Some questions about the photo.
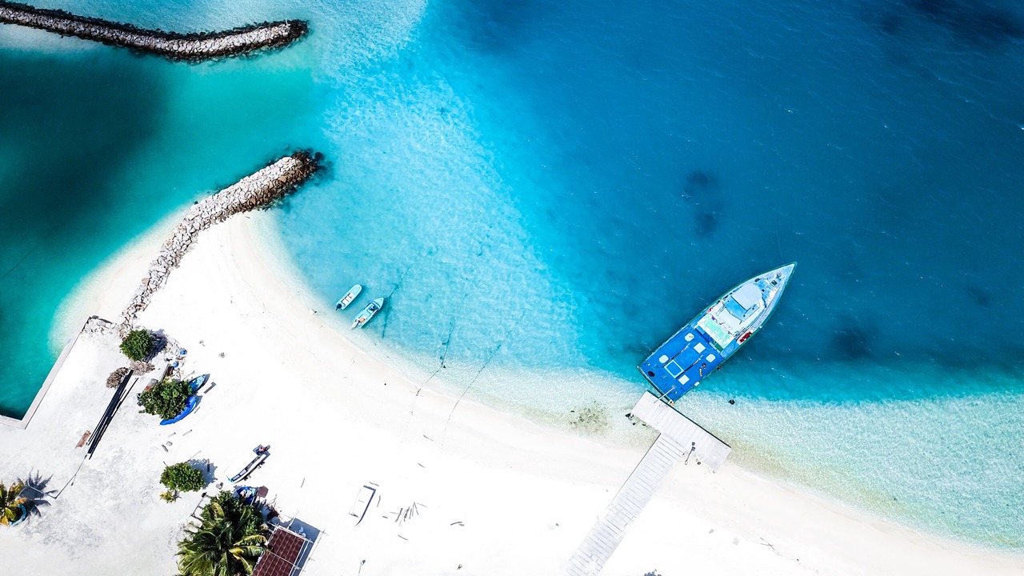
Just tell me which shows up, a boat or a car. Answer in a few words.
boat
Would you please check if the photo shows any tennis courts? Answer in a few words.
No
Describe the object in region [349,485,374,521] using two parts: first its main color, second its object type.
white boat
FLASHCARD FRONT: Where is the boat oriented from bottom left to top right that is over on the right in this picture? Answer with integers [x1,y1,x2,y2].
[637,262,798,406]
